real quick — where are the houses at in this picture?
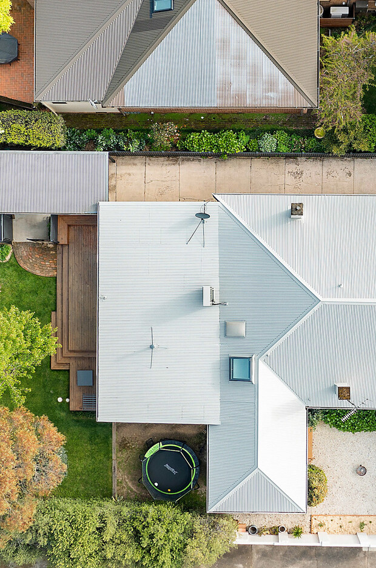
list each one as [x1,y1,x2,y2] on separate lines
[95,192,376,515]
[34,0,376,112]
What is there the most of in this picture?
buildings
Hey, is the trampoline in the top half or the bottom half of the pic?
bottom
